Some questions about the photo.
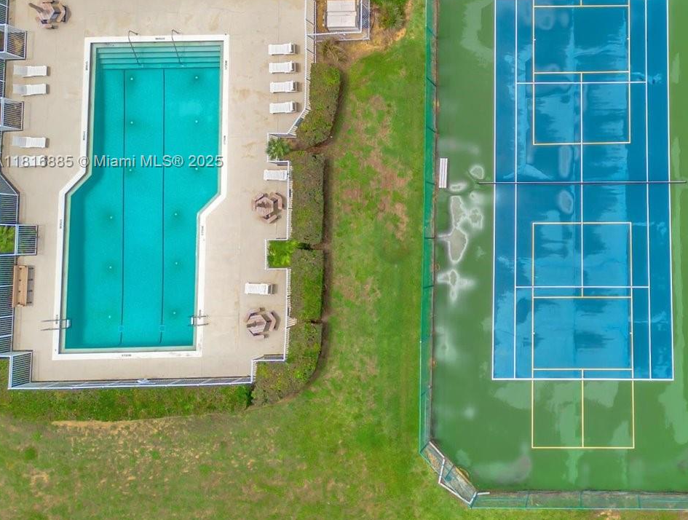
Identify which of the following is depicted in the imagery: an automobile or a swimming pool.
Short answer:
swimming pool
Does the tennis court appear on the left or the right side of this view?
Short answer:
right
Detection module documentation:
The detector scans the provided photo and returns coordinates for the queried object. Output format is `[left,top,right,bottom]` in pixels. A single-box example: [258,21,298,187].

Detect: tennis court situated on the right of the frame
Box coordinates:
[430,0,688,495]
